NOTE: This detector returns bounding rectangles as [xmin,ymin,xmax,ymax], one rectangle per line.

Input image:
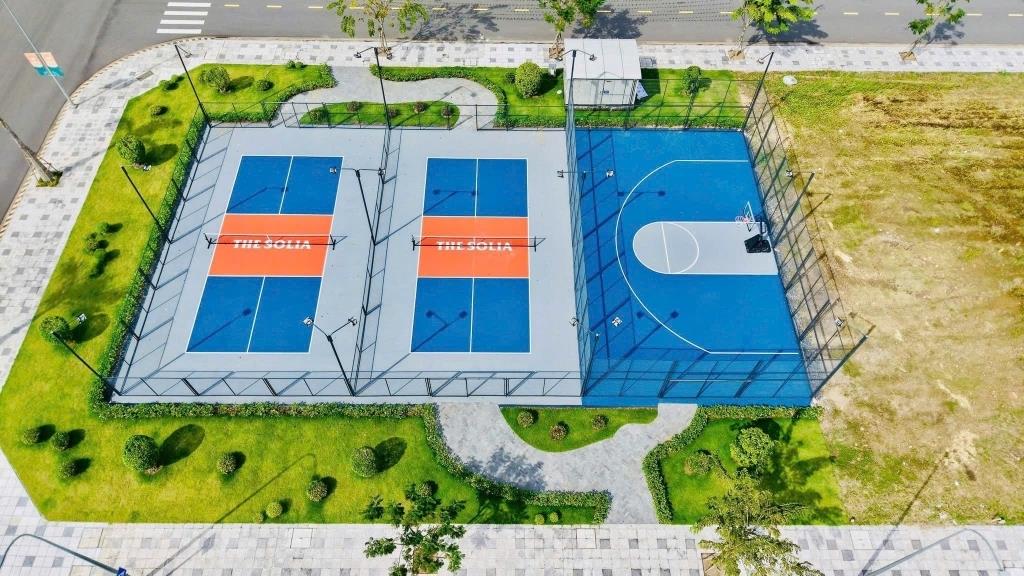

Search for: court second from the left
[354,126,585,405]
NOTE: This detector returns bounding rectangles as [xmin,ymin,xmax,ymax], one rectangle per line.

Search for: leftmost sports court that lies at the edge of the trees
[109,123,389,404]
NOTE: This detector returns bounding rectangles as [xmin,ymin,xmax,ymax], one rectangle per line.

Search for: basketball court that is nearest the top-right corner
[567,128,814,406]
